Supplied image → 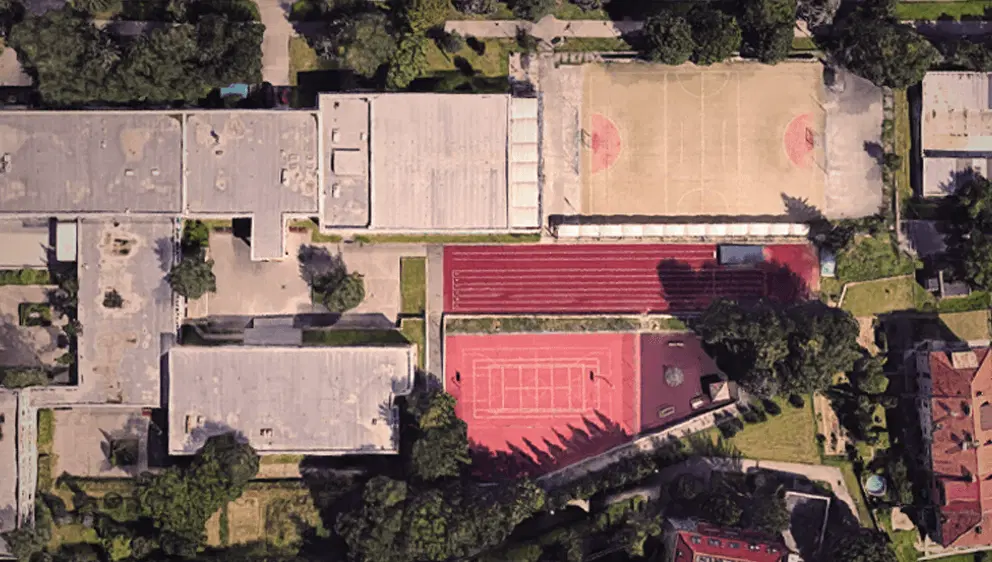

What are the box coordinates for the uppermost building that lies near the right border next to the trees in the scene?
[914,71,992,153]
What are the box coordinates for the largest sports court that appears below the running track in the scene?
[446,333,637,484]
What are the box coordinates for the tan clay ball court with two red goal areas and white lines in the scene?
[581,61,826,218]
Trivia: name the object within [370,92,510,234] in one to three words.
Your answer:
building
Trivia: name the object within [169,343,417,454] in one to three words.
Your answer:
building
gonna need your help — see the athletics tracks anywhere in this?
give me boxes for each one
[444,245,820,311]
